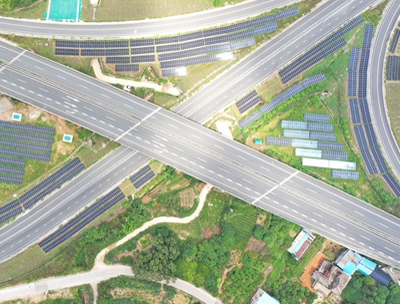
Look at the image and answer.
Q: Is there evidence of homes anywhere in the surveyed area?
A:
Yes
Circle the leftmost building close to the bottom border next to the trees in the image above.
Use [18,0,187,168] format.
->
[245,286,280,304]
